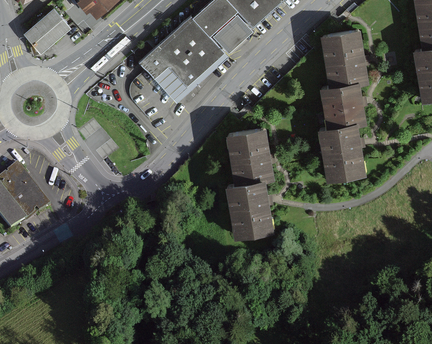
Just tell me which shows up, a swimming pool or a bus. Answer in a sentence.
The image shows a bus.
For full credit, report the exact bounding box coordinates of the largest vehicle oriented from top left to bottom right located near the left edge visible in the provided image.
[12,148,27,163]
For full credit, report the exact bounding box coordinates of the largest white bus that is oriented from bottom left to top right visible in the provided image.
[92,36,130,72]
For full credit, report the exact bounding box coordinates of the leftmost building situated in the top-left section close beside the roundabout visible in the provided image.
[24,8,71,56]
